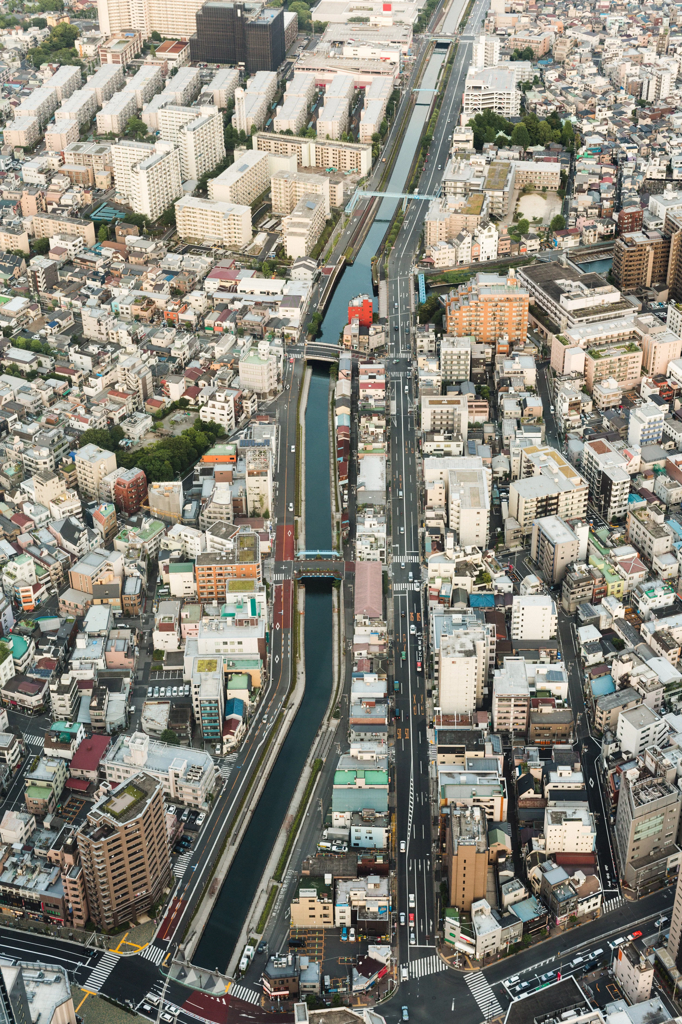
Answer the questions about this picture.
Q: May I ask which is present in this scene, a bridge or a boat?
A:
bridge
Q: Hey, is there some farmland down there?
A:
No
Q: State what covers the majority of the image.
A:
buildings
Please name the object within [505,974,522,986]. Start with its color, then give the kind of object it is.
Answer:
white vehicle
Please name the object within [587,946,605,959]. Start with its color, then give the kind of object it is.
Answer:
white vehicle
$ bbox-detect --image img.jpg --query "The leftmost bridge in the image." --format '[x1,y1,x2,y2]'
[164,960,234,994]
